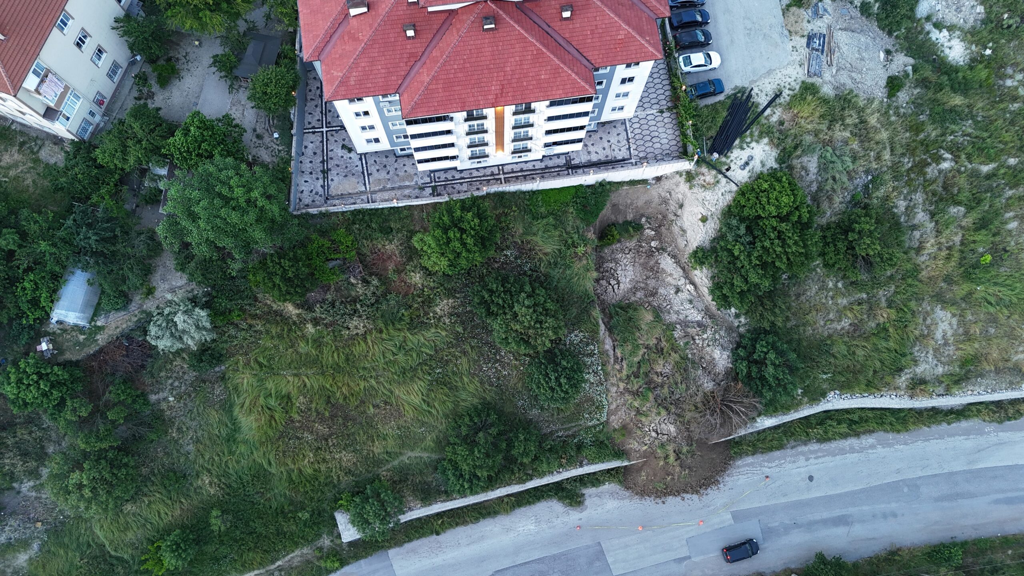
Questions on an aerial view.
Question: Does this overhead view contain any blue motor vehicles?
Yes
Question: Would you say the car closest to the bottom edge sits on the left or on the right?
right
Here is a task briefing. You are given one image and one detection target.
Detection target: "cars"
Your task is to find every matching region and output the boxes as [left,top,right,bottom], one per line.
[686,78,725,100]
[667,0,707,13]
[673,29,712,51]
[720,539,758,564]
[669,8,710,31]
[677,51,721,75]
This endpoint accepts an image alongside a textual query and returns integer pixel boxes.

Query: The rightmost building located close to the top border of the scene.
[298,0,671,181]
